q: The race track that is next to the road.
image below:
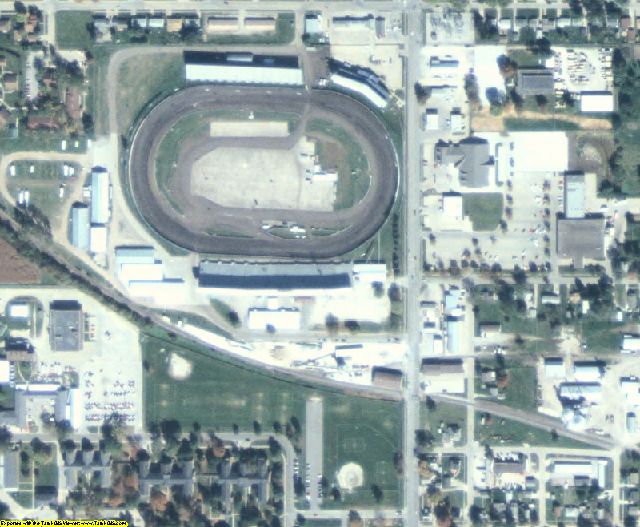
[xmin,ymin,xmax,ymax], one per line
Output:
[125,83,402,261]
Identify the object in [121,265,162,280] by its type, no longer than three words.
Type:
barn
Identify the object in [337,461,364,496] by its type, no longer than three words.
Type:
baseball field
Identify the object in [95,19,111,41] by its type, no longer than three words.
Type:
building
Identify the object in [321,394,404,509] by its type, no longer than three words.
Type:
sports field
